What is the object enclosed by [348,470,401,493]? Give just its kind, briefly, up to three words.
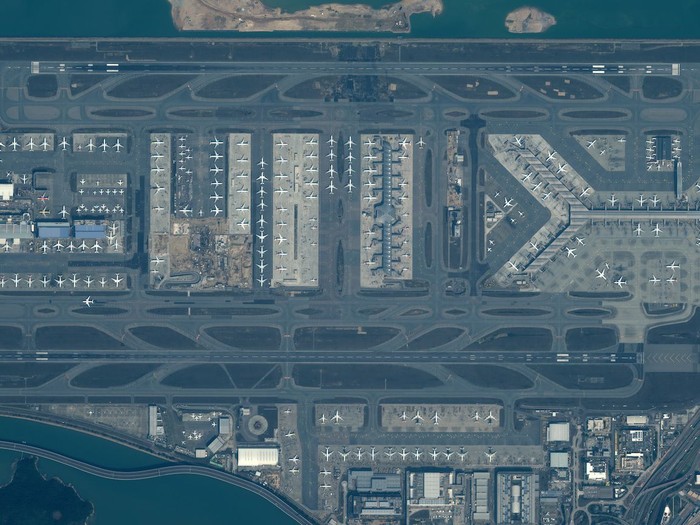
building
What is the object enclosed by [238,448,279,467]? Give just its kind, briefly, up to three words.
hangar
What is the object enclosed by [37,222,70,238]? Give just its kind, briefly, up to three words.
hangar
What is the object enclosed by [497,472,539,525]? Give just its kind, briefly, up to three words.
building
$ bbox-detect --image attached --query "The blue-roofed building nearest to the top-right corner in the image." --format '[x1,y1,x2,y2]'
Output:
[657,136,671,159]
